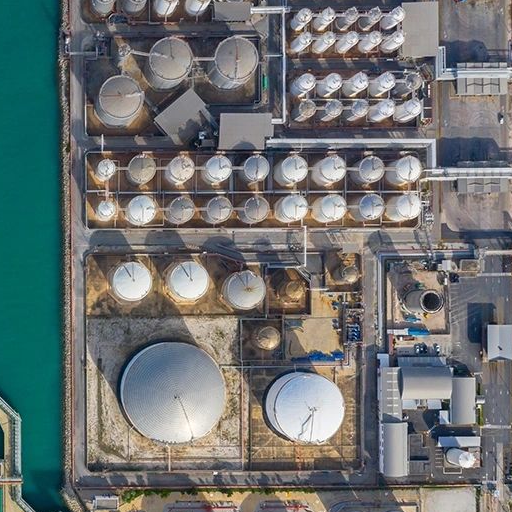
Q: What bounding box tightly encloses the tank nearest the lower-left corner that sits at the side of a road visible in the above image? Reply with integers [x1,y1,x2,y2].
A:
[117,338,226,446]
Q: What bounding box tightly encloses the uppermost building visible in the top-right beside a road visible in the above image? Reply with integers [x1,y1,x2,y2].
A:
[396,2,438,60]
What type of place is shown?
industrial area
